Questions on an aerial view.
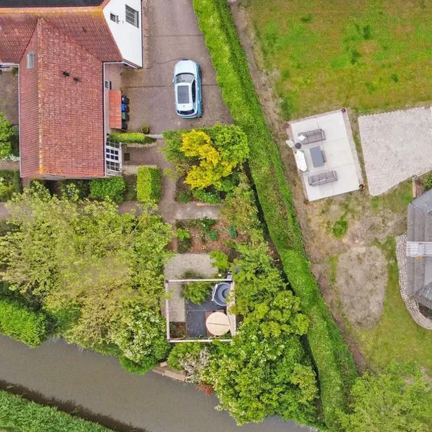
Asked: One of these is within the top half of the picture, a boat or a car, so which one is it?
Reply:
car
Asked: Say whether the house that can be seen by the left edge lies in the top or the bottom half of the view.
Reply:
top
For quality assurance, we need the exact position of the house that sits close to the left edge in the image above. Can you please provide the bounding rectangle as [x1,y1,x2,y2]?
[0,0,143,178]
